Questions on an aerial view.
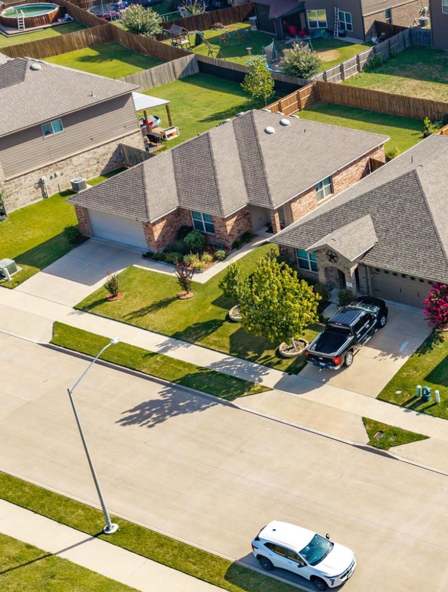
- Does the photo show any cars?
Yes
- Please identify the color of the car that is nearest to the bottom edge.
white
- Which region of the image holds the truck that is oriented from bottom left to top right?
right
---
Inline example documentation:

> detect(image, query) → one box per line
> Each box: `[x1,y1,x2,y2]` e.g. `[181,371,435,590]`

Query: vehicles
[304,297,394,369]
[251,520,355,591]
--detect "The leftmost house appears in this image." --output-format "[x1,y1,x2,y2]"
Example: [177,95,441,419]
[0,44,145,213]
